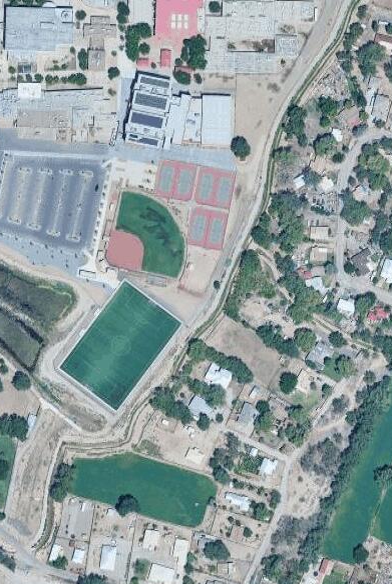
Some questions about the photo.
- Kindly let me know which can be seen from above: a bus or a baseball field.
baseball field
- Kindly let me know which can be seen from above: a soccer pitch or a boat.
soccer pitch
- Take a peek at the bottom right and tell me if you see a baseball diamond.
No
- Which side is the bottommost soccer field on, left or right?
left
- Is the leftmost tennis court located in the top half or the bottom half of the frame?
top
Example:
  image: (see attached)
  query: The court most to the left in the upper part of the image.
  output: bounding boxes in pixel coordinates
[155,160,197,200]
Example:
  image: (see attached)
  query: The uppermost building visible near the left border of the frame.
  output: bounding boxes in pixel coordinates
[5,5,73,50]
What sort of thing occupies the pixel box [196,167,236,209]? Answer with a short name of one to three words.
tennis court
